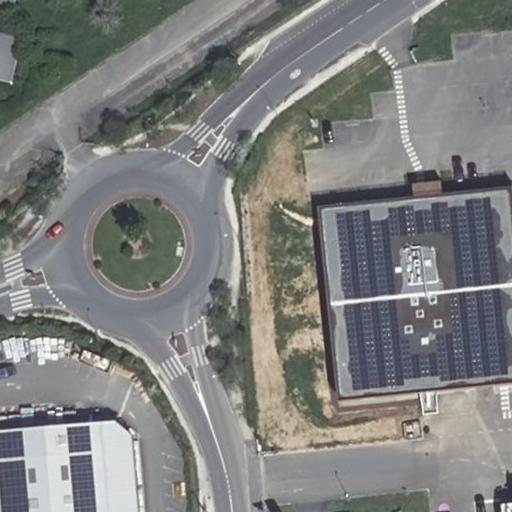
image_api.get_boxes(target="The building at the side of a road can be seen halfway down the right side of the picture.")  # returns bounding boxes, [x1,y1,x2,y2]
[318,180,512,400]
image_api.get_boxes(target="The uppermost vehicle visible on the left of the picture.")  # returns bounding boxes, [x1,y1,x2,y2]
[46,222,66,238]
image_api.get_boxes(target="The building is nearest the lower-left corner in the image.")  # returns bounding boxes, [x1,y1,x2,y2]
[0,421,146,512]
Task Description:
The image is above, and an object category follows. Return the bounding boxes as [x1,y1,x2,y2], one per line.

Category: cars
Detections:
[46,222,66,238]
[322,120,334,142]
[476,496,486,512]
[0,366,16,376]
[468,164,478,184]
[454,158,464,182]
